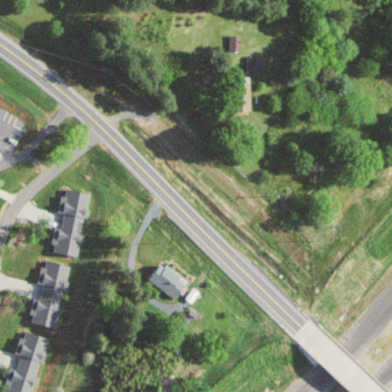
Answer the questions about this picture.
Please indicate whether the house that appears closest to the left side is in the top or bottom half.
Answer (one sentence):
Seen from above, the house that appears closest to the left side lies in the bottom half of the view.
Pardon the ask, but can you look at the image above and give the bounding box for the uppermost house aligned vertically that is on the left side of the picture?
[50,189,90,258]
